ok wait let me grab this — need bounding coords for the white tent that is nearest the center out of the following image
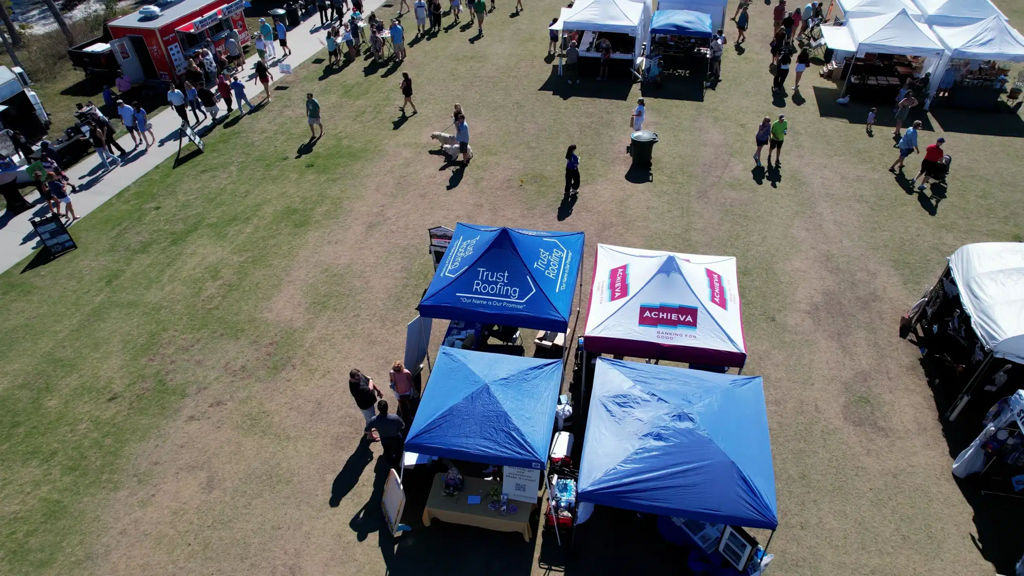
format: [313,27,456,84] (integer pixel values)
[578,244,747,417]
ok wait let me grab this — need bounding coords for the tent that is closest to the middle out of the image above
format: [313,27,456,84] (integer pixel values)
[420,223,585,401]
